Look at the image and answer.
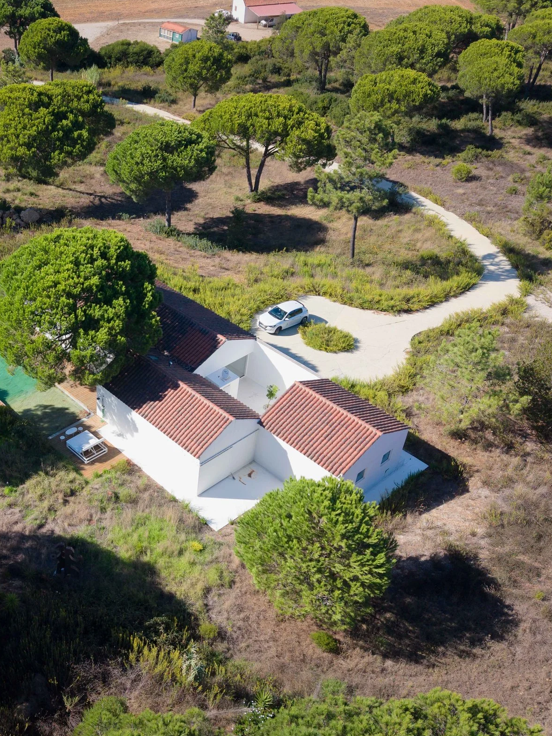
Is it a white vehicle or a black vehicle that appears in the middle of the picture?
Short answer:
white vehicle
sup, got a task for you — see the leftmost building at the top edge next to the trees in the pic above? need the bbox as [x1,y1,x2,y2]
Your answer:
[158,18,201,43]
